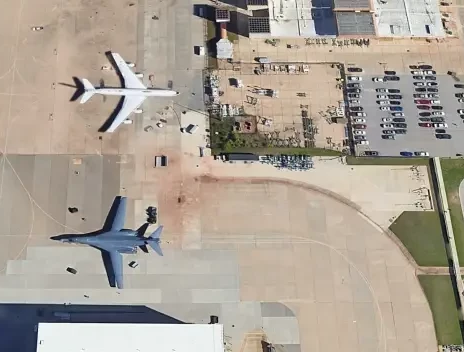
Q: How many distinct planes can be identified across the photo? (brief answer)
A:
2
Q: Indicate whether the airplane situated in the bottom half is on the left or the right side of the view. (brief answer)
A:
left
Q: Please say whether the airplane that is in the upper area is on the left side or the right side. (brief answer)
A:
left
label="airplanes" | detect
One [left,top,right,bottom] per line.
[59,196,164,289]
[80,53,179,131]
